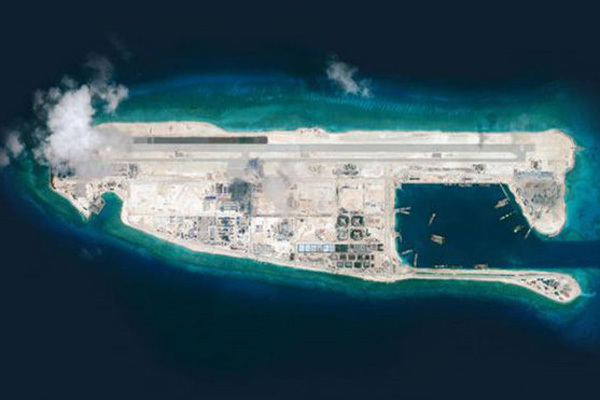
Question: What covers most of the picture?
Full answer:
The largest share of the image is taken up by water.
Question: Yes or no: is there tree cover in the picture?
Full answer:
No, no tree cover is visible.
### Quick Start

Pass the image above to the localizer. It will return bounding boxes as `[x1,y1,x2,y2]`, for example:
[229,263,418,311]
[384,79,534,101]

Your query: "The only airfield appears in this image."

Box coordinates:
[104,137,535,172]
